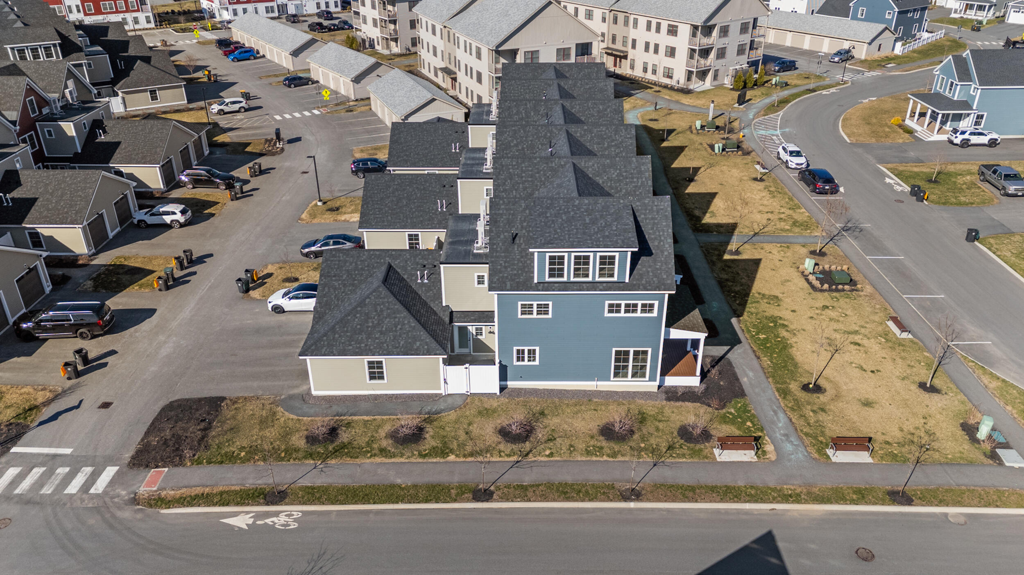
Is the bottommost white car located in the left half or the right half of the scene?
left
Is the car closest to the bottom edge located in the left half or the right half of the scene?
left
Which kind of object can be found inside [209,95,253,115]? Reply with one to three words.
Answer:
car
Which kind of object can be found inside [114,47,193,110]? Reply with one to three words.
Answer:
building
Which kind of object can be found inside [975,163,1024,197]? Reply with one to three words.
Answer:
truck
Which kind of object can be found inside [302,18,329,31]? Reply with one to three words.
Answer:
vehicle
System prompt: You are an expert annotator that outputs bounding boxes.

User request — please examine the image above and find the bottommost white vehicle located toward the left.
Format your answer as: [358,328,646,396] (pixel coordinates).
[261,279,320,314]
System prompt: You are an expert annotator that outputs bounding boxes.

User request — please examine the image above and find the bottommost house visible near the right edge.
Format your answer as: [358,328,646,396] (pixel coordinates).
[906,47,1024,140]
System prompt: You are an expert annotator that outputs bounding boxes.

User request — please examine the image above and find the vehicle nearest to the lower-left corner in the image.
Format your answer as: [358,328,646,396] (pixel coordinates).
[7,298,121,343]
